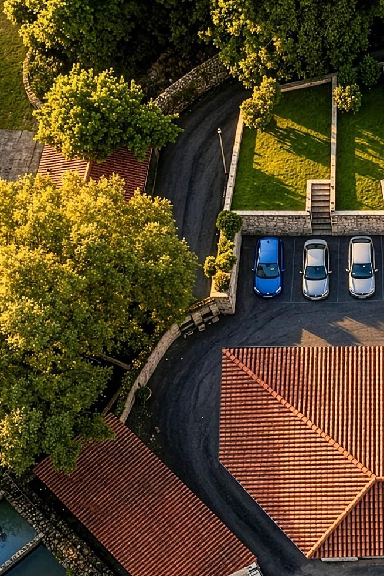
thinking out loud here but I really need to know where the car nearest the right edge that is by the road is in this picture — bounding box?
[343,236,378,300]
